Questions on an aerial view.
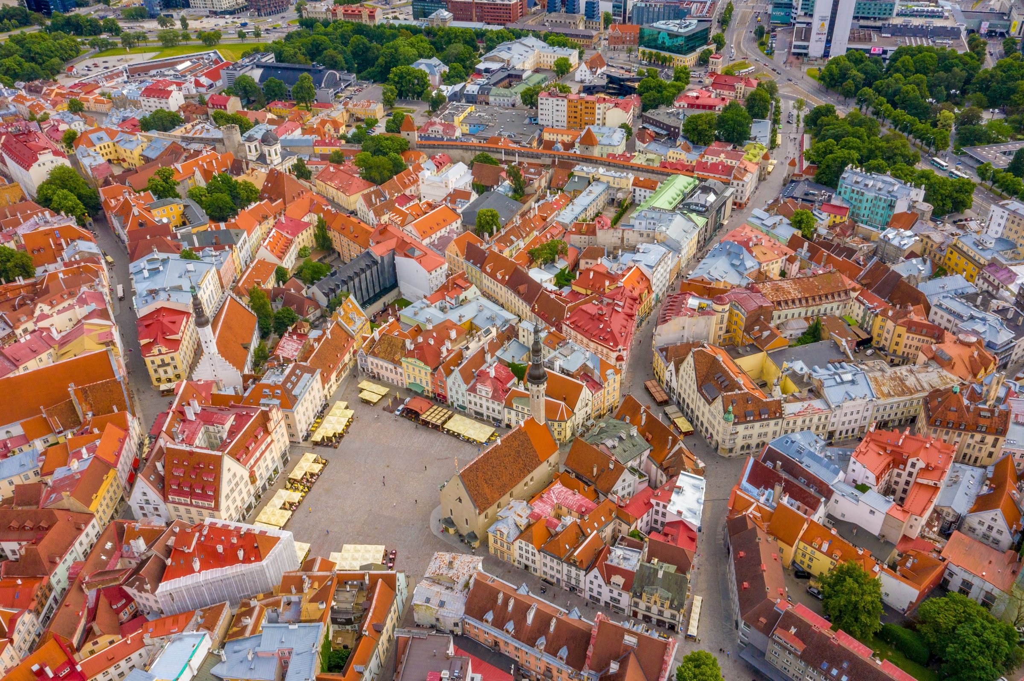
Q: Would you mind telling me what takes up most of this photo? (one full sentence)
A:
The scene is dominated by buildings.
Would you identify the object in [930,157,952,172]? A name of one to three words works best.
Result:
vehicle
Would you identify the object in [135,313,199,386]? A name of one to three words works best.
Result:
building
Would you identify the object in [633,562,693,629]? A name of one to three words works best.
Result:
house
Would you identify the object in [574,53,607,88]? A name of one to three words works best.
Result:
house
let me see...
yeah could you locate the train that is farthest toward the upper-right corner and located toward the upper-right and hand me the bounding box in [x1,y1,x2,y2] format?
[734,60,768,74]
